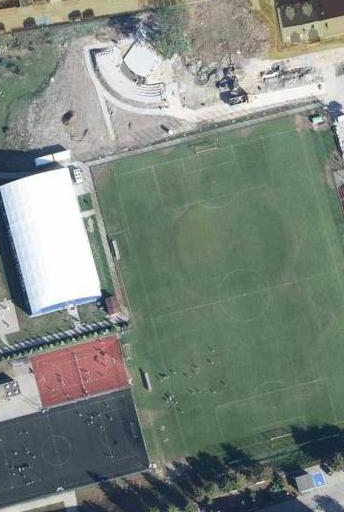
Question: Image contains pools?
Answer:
No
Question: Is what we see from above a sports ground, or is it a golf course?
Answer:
sports ground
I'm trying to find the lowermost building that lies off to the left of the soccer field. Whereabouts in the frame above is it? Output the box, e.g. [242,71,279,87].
[0,381,21,401]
